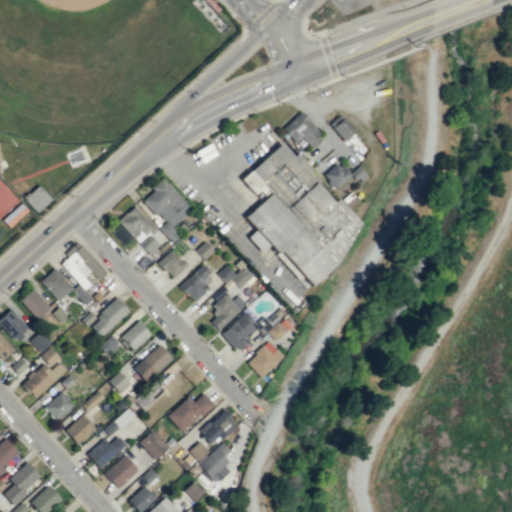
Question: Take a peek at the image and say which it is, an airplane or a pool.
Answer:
pool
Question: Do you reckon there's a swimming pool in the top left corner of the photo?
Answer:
No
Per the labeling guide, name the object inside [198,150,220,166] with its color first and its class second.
white vehicle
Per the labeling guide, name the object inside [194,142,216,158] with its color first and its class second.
white vehicle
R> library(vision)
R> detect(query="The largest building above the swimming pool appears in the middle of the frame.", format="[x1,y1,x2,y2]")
[244,146,364,288]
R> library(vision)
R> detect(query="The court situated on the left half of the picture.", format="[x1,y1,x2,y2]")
[0,180,20,220]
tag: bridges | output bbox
[434,0,496,38]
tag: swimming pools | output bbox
[245,292,280,320]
